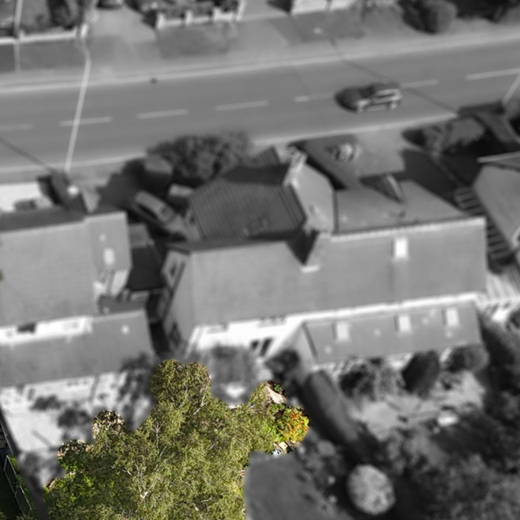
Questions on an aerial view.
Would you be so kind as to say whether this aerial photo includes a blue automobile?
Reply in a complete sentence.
No, no blue automobile can be seen from above.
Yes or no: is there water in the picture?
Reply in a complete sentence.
No, there's no water in this view.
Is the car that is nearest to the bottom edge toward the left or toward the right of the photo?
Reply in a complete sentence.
It is on the left.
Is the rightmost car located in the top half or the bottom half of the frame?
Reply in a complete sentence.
The rightmost car is in the top half of the image.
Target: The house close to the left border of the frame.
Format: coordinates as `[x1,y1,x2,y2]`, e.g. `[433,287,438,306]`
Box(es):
[0,173,154,404]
